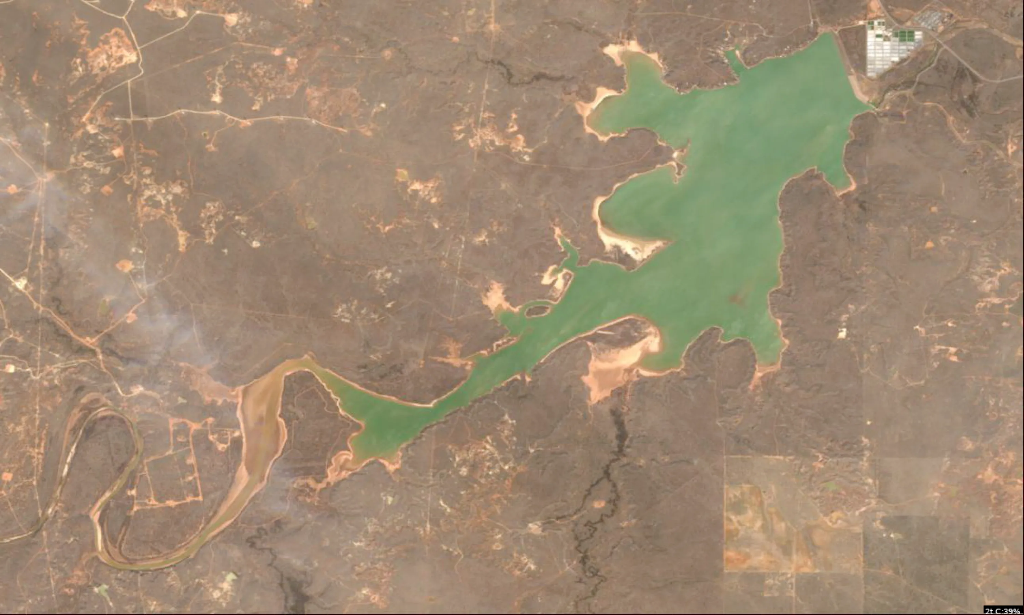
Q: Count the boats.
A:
0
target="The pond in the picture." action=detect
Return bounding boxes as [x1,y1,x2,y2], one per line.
[277,34,872,469]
